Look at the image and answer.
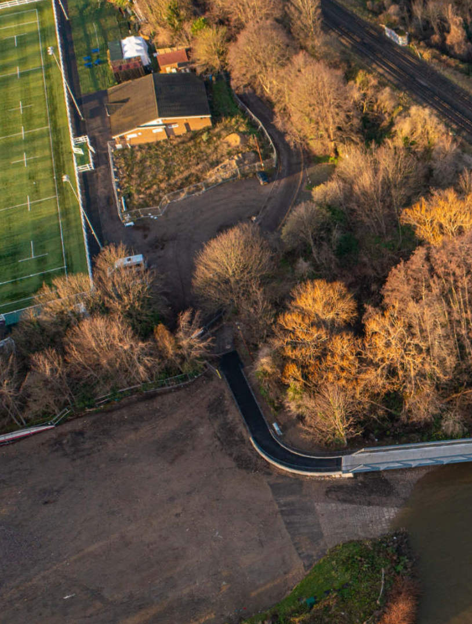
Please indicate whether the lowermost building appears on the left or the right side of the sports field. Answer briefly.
to the right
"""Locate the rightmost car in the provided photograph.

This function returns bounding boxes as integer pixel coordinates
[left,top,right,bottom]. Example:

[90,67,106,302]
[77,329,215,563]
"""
[255,168,268,183]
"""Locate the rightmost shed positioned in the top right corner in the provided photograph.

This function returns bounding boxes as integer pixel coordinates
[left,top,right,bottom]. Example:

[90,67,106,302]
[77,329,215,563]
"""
[396,37,436,61]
